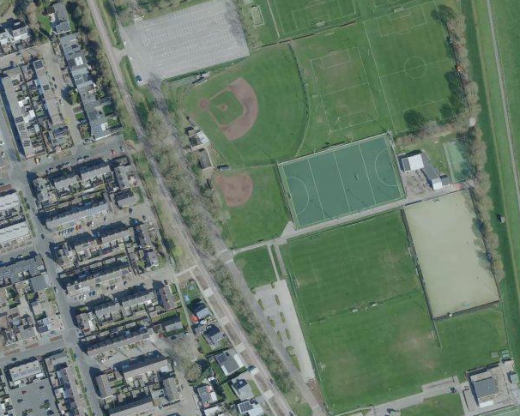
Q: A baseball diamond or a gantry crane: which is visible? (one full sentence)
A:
Of the two, only a baseball diamond appears.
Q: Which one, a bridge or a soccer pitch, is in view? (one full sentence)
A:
There is a soccer pitch in the scene.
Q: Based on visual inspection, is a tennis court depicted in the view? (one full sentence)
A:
Yes, you can see a tennis court in this photo.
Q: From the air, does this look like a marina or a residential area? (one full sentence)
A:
The picture captures a residential area.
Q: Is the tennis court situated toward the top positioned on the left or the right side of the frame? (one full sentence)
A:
The tennis court situated toward the top sits on the right side.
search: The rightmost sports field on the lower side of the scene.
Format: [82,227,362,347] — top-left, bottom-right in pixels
[404,190,499,317]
